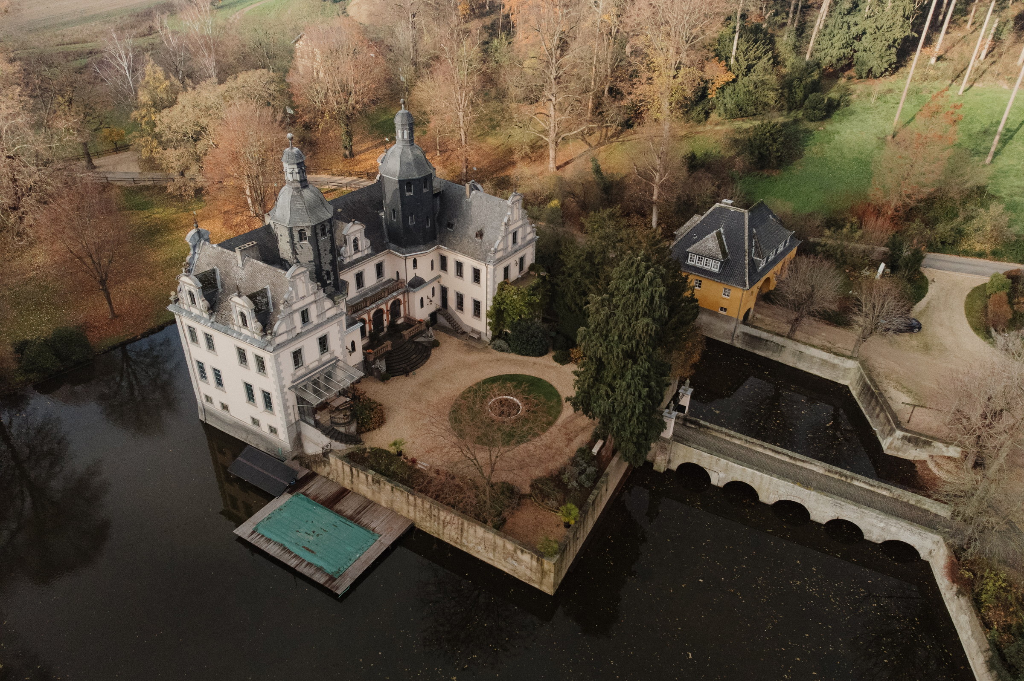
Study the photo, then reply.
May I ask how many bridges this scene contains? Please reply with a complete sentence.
The picture shows 1 bridge.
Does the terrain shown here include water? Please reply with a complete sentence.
Yes, water can be seen from above here.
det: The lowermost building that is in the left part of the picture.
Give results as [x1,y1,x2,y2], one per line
[161,81,548,469]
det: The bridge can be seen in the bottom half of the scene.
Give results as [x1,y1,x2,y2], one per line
[671,416,978,568]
